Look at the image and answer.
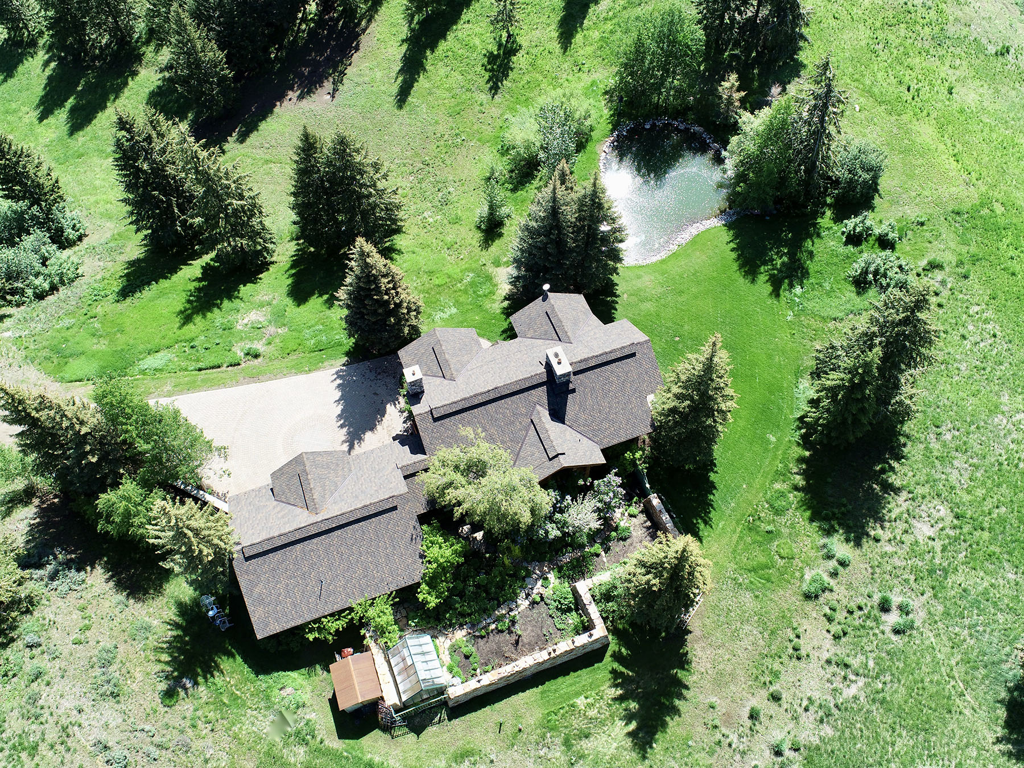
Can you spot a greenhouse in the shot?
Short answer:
Yes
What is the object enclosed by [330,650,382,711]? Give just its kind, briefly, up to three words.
shed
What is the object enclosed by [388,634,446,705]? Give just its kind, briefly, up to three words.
greenhouse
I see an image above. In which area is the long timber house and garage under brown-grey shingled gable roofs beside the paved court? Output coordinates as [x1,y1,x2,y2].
[232,294,666,640]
